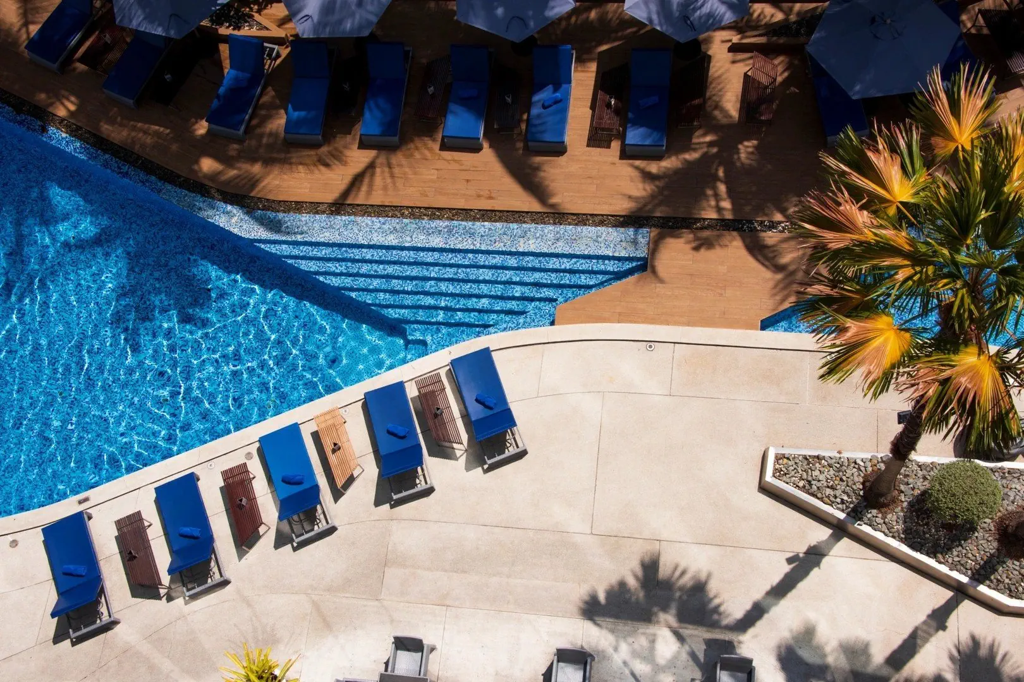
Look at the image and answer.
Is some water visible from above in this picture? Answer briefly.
Yes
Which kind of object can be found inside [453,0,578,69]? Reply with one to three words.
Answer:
umbrella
